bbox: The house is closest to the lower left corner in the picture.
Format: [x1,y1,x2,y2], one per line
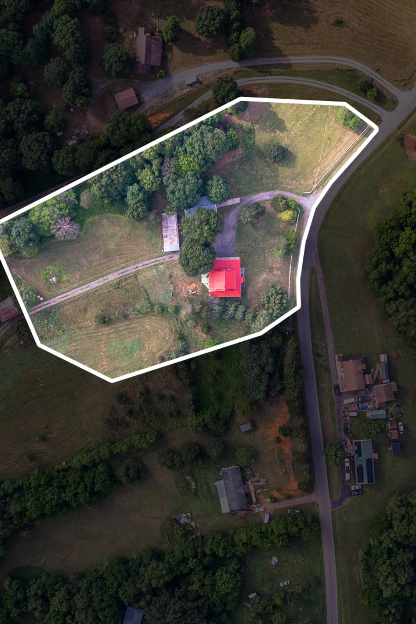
[123,606,144,624]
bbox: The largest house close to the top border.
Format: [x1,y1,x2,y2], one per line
[135,27,173,75]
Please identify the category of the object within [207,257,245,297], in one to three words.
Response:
house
